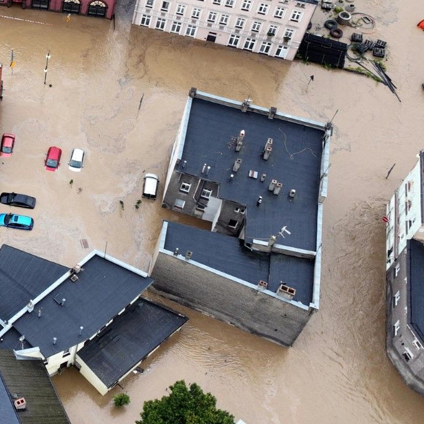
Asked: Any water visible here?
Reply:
Yes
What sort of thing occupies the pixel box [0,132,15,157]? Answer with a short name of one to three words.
car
